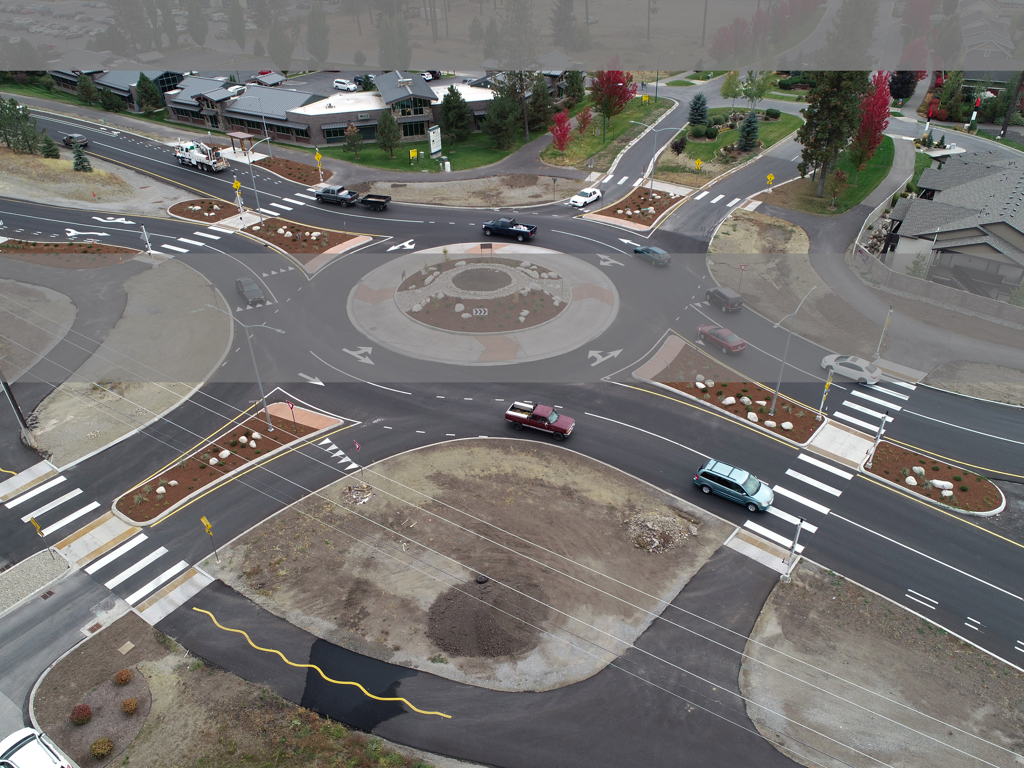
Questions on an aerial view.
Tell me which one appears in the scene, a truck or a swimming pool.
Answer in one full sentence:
Looking from above, you can make out a truck.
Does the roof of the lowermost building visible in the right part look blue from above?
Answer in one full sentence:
No, the roof of the lowermost building visible in the right part is gray.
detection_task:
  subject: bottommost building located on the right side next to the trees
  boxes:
[877,116,1024,300]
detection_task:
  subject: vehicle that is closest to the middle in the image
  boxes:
[504,402,578,441]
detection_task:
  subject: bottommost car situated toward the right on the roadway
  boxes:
[690,456,779,513]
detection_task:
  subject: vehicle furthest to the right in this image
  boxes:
[820,353,887,385]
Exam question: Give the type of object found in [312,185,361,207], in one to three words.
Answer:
truck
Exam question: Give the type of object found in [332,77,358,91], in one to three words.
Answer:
car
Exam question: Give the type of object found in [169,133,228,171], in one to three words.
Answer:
truck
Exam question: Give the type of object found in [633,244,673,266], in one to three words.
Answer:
car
